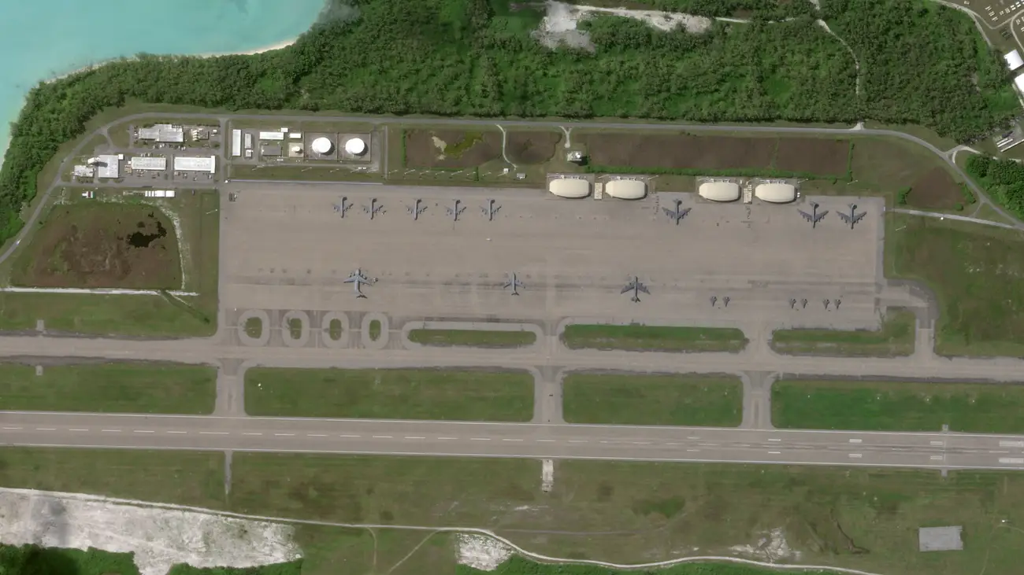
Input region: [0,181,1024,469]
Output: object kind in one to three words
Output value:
airport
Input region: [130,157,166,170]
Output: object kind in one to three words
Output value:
building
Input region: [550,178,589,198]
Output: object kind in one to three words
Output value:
hangar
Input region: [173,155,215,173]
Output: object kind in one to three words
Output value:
building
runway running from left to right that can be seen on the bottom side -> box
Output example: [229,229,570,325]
[0,412,1024,469]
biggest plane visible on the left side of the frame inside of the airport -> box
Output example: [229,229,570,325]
[344,269,372,297]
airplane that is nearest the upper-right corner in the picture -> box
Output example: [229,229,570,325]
[837,202,868,229]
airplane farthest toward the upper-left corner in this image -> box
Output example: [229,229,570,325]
[332,195,354,218]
